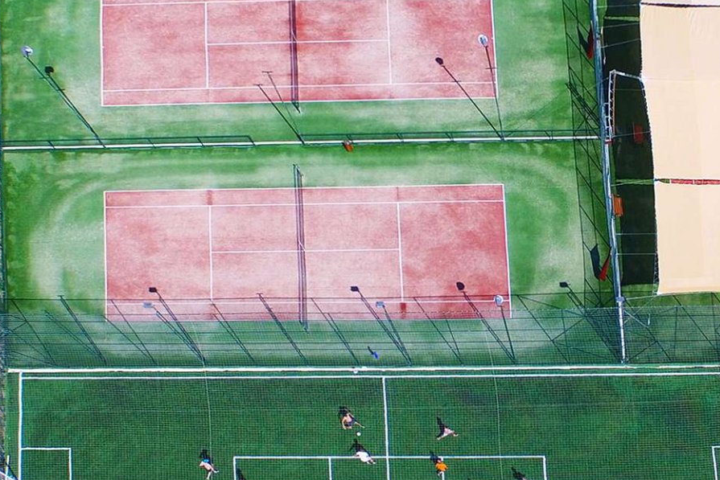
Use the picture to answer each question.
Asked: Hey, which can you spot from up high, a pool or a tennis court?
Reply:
tennis court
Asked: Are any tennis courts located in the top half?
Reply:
Yes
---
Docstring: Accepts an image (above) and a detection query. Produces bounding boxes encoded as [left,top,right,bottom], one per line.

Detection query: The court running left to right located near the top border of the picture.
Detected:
[0,0,599,146]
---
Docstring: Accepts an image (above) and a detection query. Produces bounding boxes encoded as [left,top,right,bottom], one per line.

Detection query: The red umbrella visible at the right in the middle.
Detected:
[598,255,610,282]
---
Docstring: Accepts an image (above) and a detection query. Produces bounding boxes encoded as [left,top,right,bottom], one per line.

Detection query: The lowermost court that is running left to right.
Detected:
[2,139,618,367]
